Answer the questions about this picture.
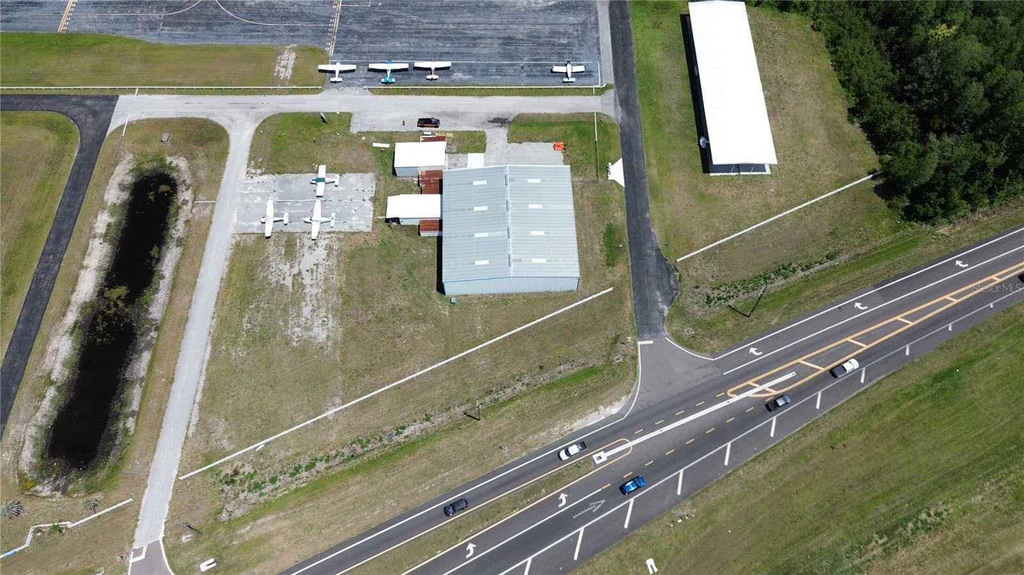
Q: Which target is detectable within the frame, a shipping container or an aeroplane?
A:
aeroplane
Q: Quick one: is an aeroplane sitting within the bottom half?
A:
No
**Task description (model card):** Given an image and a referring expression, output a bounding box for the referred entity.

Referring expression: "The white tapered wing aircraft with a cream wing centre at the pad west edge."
[259,200,291,236]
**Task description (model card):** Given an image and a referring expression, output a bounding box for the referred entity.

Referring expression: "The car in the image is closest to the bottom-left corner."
[444,499,469,517]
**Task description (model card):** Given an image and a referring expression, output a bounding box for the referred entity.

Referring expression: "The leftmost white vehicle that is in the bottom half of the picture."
[558,441,588,460]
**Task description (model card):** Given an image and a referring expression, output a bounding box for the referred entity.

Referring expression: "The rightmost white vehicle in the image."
[833,359,860,377]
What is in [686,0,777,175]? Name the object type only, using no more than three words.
hangar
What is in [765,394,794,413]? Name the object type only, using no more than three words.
vehicle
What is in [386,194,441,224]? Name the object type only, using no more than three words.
shed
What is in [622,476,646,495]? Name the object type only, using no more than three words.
car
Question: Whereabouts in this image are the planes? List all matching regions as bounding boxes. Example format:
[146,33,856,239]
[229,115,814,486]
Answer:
[369,60,408,83]
[259,200,291,236]
[311,165,342,195]
[302,200,339,239]
[553,59,586,82]
[318,62,356,84]
[414,59,451,81]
